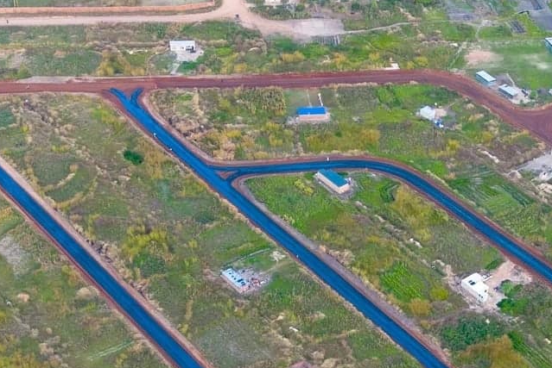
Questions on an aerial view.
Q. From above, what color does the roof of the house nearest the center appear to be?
blue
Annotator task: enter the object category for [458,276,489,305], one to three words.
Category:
house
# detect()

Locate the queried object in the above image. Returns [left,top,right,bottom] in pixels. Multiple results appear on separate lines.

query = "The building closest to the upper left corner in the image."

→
[171,40,195,56]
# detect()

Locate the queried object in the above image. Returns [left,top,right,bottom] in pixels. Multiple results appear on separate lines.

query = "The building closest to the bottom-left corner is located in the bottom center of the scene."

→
[219,268,248,296]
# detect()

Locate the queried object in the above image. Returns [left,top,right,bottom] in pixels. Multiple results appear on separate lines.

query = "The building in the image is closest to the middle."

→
[319,164,349,192]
